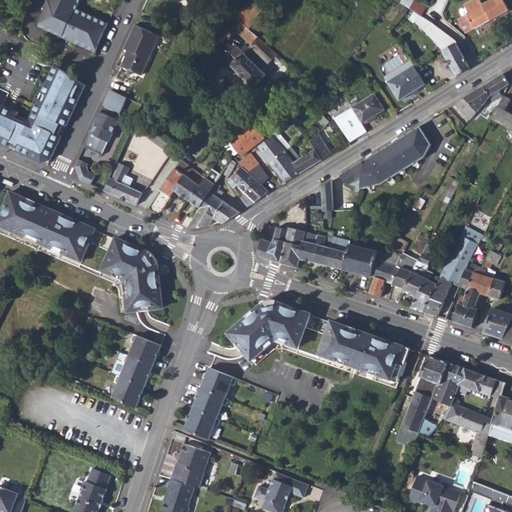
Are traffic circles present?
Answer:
Yes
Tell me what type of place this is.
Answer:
residential area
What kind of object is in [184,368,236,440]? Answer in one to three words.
house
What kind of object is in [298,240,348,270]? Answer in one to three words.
house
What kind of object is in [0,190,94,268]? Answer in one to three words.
building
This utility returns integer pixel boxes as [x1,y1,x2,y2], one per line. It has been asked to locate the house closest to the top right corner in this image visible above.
[457,0,509,32]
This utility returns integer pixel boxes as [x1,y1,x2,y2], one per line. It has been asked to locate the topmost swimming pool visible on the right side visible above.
[454,460,477,490]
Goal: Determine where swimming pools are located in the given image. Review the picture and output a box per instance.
[454,460,477,490]
[466,493,492,512]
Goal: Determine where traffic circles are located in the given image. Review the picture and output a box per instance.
[188,229,254,295]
